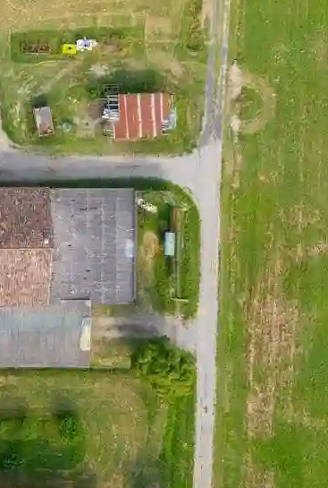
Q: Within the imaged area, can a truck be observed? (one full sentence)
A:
No, no truck is visible in the scene.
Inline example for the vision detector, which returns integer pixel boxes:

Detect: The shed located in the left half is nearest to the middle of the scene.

[49,187,136,303]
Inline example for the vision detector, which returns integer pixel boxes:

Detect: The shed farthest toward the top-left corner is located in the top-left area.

[35,106,55,136]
